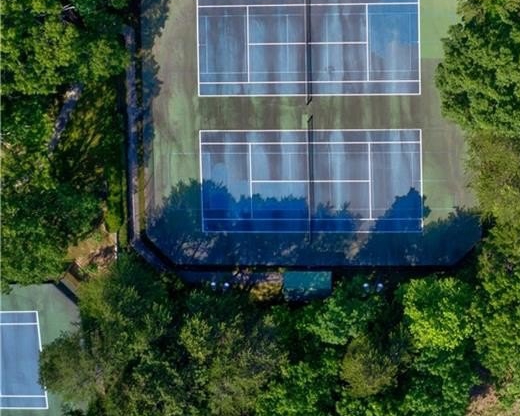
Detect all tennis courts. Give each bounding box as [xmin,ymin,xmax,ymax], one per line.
[200,129,423,233]
[0,311,47,409]
[197,0,421,97]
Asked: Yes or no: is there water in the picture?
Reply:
No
